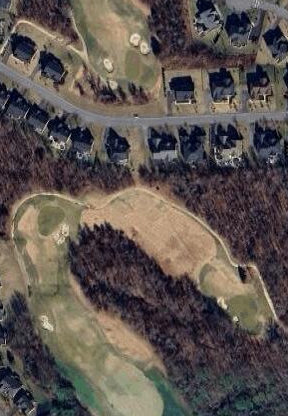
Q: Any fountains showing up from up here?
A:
No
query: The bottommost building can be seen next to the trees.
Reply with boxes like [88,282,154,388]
[5,387,37,411]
